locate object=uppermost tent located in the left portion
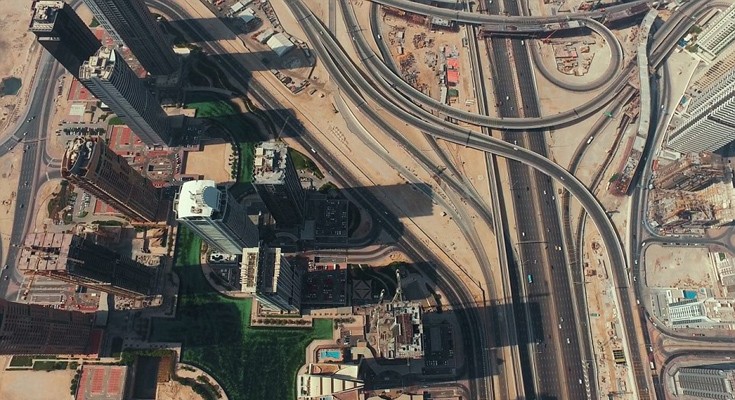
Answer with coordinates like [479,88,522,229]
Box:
[268,33,295,59]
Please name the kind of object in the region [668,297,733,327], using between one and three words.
building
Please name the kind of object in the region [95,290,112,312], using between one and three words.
building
